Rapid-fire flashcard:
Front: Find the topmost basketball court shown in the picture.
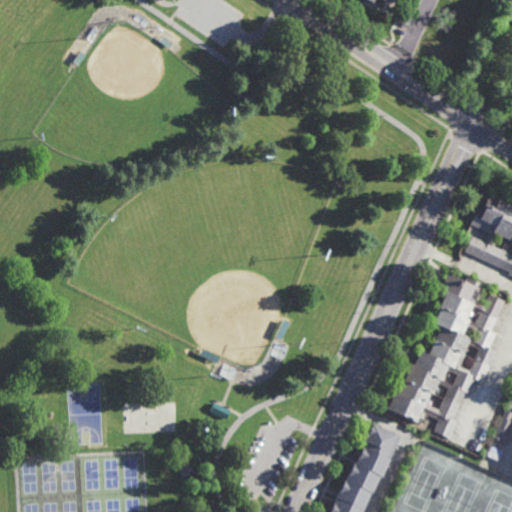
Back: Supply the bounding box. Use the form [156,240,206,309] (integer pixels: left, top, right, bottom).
[68,384,102,447]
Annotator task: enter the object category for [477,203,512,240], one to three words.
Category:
house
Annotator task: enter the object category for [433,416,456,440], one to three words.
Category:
building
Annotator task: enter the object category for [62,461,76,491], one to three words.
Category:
sports court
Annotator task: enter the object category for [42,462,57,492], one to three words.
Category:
sports court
